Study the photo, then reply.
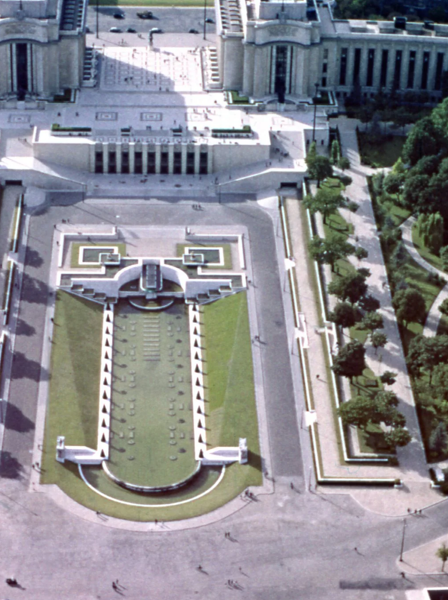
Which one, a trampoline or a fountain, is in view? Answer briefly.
fountain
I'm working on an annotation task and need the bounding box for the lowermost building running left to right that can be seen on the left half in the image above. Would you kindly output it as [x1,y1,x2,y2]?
[31,125,271,195]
